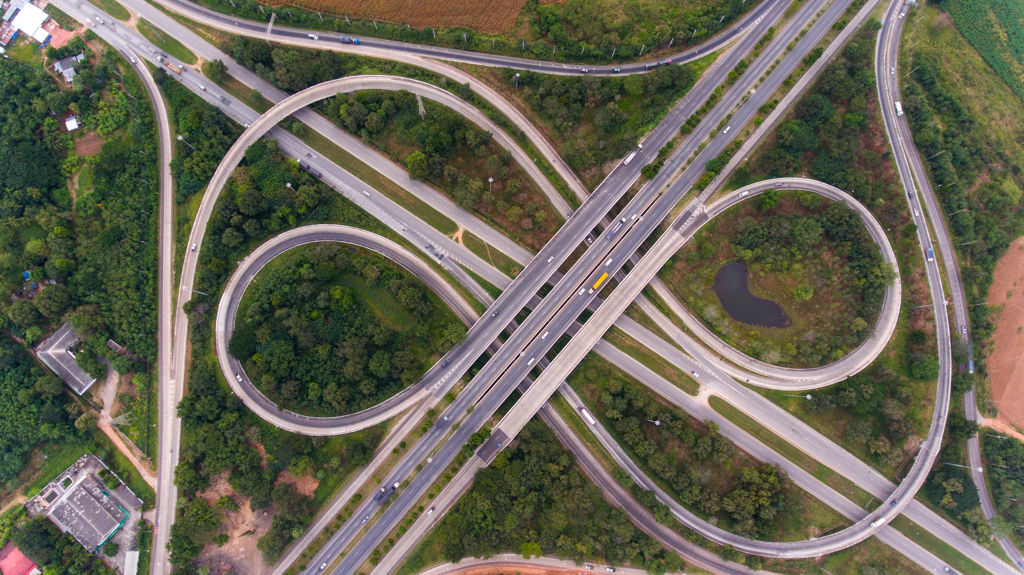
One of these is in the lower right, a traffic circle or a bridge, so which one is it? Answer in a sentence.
What appears in the lower right is a bridge.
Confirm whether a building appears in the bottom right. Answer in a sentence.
No, I can find no building in the bottom right.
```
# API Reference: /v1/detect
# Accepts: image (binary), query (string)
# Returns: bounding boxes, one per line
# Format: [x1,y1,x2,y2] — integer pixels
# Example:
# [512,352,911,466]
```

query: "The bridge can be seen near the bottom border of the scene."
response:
[822,448,937,553]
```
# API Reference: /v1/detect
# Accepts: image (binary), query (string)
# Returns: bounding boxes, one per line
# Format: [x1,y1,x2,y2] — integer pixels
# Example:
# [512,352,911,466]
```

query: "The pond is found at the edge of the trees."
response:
[715,261,793,329]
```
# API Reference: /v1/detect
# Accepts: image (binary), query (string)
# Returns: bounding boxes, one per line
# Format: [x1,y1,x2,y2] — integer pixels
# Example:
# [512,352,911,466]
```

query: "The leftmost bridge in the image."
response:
[235,74,368,152]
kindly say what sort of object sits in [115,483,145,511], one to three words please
shed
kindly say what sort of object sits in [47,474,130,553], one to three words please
building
